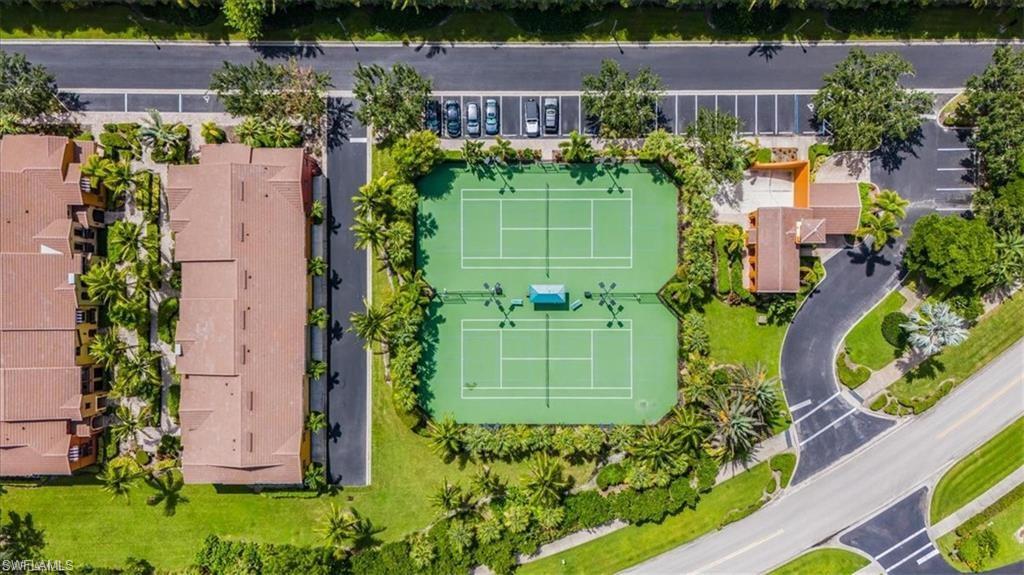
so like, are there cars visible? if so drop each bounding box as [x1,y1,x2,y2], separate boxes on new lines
[465,102,480,134]
[444,99,460,135]
[484,99,500,134]
[424,99,440,133]
[544,98,560,133]
[524,98,541,134]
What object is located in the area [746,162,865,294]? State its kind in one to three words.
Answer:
building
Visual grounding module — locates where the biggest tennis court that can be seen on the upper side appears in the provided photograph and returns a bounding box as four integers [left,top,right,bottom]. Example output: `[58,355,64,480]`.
[417,163,678,293]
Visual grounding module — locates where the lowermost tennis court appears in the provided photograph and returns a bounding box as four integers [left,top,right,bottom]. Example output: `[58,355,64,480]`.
[417,293,678,425]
